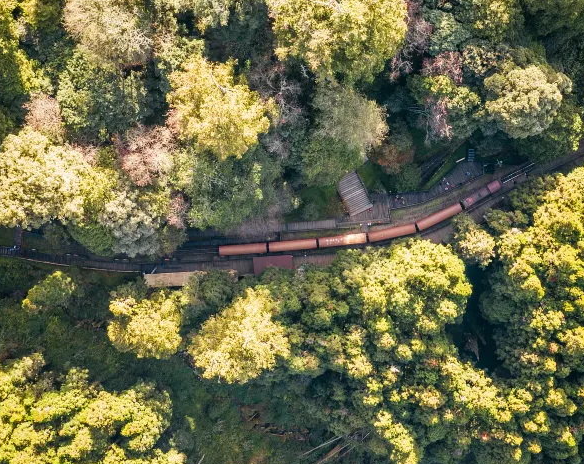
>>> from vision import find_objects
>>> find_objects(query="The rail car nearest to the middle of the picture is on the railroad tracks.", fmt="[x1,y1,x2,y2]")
[270,235,318,252]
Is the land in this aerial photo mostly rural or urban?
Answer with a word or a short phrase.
rural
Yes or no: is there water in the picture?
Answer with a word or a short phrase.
No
